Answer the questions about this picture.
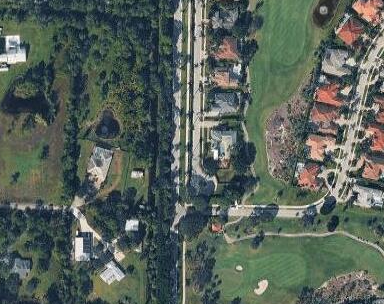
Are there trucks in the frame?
No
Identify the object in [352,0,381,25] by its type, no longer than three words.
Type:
house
